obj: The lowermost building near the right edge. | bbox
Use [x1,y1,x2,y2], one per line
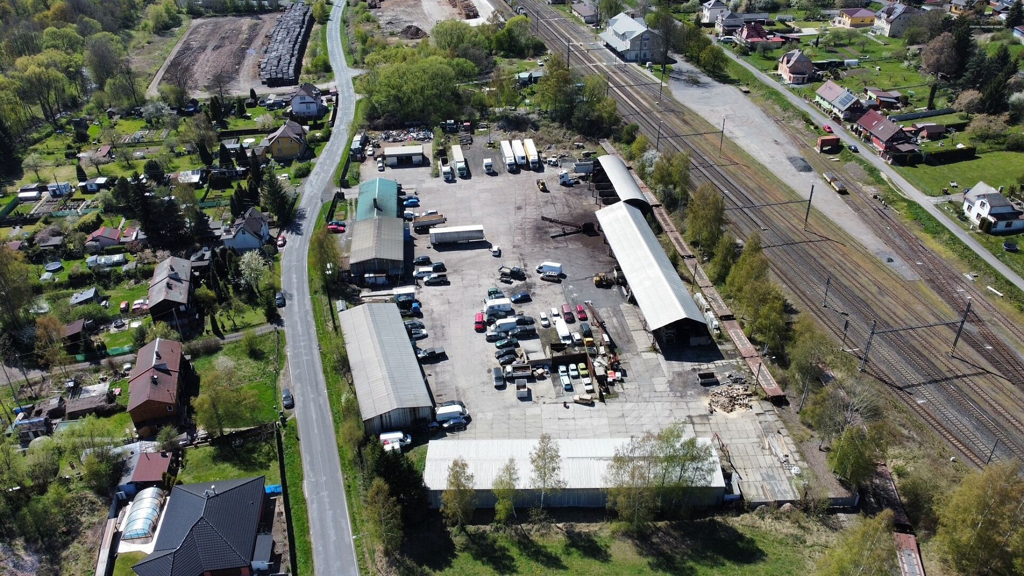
[959,179,1024,233]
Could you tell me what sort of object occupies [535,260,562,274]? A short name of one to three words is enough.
vehicle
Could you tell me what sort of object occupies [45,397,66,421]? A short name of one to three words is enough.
barn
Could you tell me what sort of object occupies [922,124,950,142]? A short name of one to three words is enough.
shed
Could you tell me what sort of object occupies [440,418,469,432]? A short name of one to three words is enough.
car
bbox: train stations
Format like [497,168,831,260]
[590,12,663,63]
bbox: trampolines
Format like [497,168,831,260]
[43,261,62,271]
[1001,236,1023,251]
